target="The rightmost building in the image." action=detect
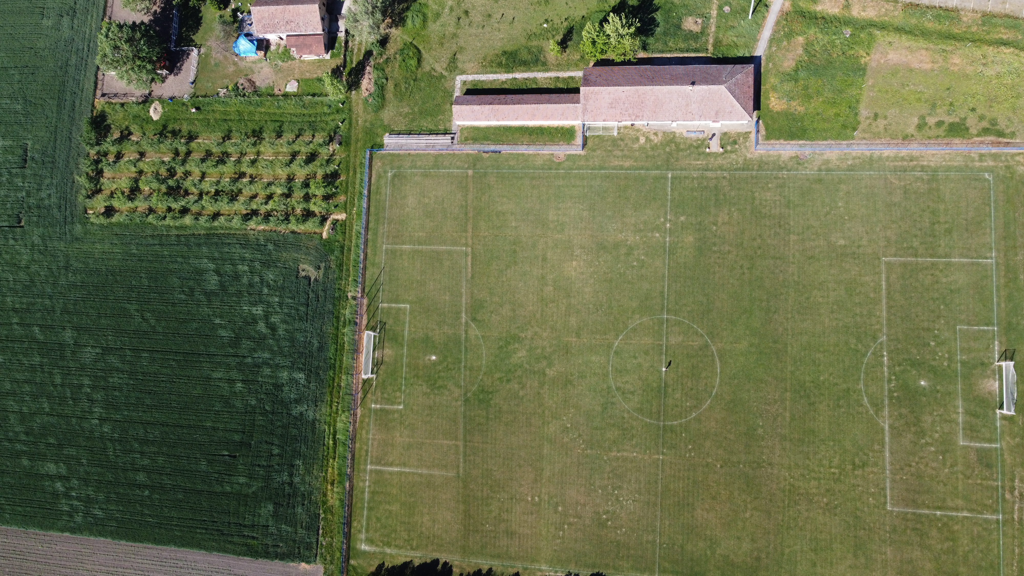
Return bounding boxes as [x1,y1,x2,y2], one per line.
[581,64,754,130]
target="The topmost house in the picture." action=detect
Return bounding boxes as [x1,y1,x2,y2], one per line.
[251,0,331,39]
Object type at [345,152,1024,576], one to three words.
soccer field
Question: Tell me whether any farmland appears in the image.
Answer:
Yes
